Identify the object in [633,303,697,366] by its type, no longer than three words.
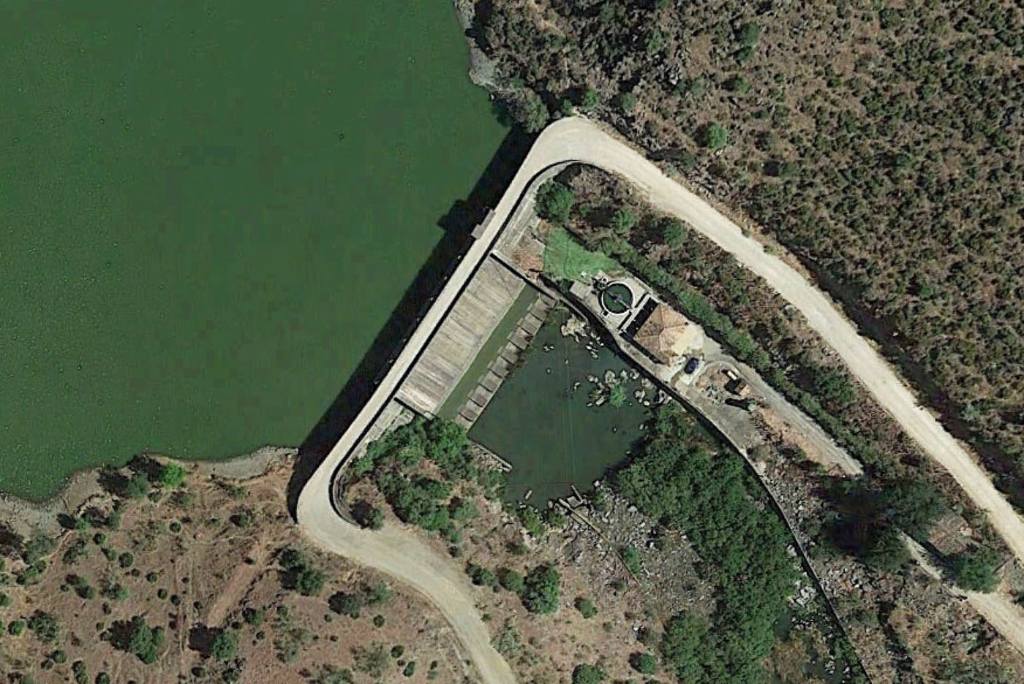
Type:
house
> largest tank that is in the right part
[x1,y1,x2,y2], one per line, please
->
[602,282,634,314]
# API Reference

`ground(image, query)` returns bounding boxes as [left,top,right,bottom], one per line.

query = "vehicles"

[686,358,698,374]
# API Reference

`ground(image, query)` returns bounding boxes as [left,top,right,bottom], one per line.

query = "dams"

[297,115,587,541]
